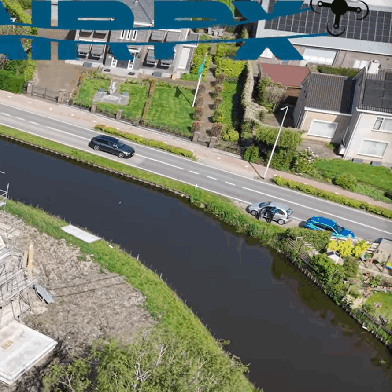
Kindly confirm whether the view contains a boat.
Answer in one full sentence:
No, the picture doesn't show any boat.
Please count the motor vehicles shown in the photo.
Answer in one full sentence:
Altogether the scene contains 3 motor vehicles.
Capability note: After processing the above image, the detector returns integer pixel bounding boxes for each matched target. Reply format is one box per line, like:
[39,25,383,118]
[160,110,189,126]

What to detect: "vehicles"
[247,198,307,225]
[309,213,371,241]
[89,131,139,159]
